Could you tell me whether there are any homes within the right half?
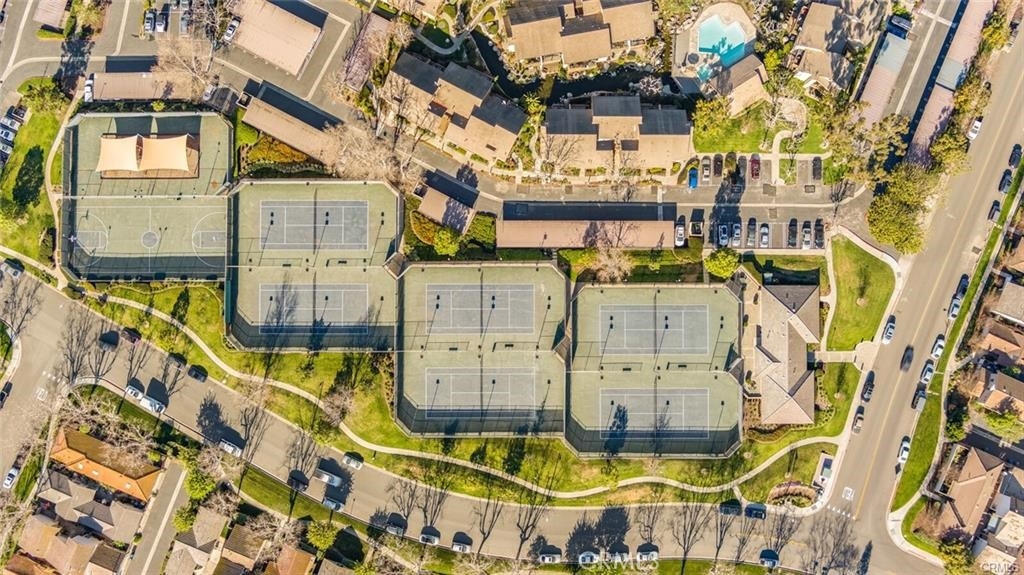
Yes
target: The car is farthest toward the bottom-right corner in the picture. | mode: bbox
[898,441,912,463]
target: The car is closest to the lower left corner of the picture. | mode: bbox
[2,468,17,489]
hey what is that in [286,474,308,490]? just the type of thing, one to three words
car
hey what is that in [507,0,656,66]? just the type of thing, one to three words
house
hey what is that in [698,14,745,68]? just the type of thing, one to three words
swimming pool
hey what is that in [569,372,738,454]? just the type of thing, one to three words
tennis court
